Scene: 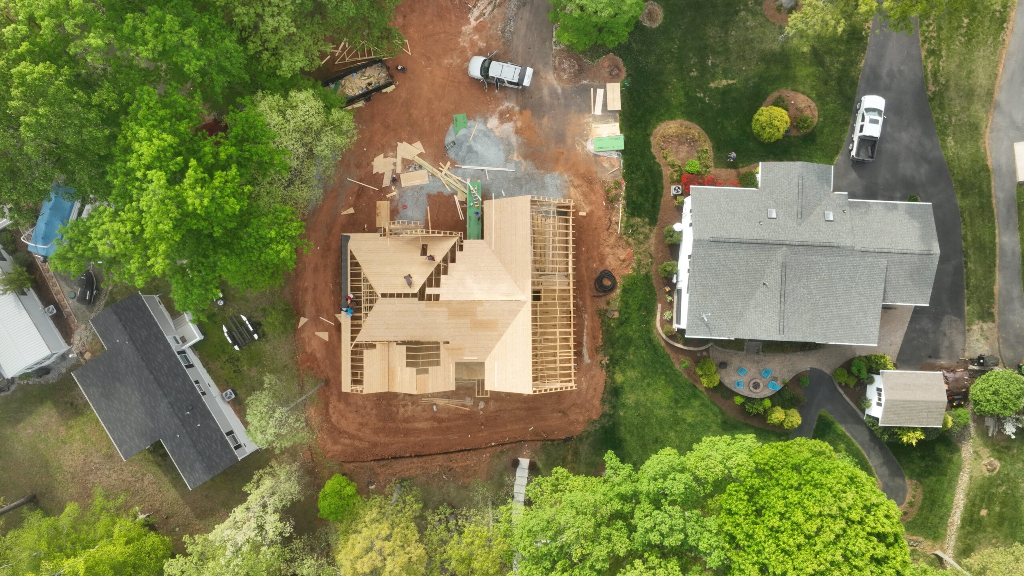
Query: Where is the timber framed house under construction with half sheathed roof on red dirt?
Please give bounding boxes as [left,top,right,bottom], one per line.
[342,195,576,397]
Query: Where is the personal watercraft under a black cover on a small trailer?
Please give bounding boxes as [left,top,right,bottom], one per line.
[73,270,92,305]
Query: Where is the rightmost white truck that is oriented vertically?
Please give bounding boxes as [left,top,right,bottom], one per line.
[848,96,888,164]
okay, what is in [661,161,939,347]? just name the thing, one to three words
house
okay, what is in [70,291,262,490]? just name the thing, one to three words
house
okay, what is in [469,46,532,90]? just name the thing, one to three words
car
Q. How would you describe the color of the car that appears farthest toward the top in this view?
white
